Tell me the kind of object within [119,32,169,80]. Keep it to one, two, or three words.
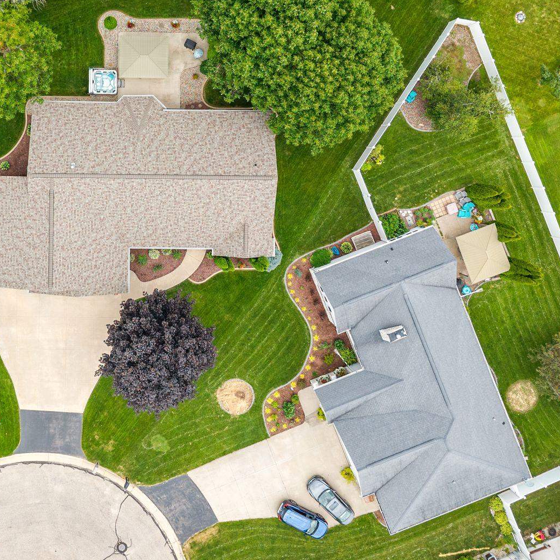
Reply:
gazebo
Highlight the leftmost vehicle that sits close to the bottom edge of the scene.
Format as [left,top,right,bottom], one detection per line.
[279,503,330,542]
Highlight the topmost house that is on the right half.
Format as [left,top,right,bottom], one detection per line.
[310,224,534,536]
